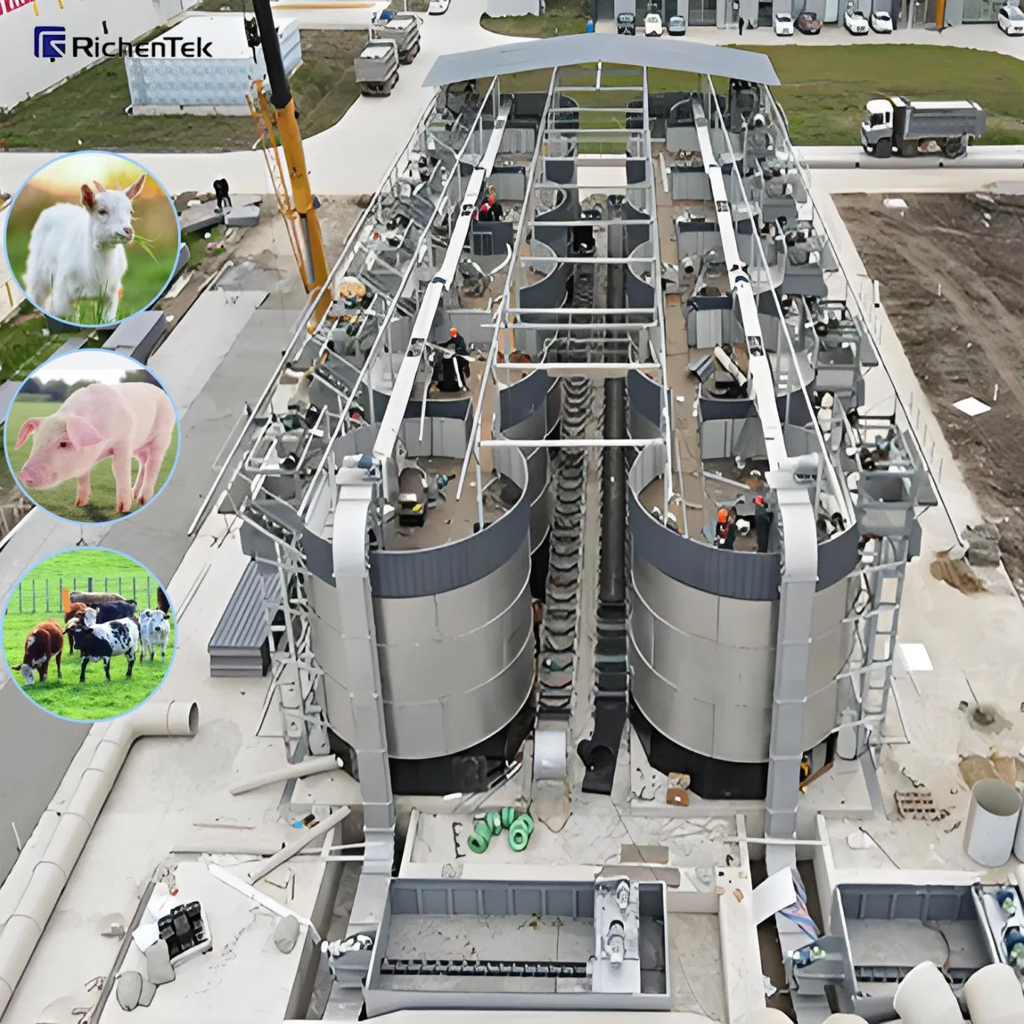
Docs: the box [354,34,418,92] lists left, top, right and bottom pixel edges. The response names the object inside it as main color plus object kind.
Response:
gray truck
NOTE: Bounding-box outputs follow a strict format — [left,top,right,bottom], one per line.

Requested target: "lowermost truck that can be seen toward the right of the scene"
[855,97,996,156]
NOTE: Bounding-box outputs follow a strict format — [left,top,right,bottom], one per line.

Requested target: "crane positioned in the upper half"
[249,0,377,340]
